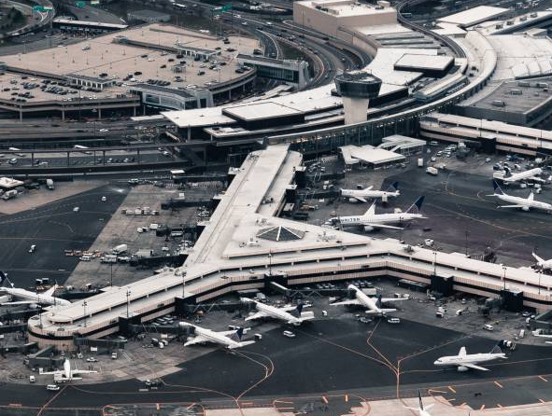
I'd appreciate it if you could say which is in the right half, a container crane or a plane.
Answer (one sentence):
The one visible in the right half is a plane.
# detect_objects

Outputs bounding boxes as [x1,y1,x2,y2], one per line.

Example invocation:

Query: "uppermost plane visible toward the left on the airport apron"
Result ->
[0,271,56,309]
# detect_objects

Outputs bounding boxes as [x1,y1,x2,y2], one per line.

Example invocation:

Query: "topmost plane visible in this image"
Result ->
[491,167,545,183]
